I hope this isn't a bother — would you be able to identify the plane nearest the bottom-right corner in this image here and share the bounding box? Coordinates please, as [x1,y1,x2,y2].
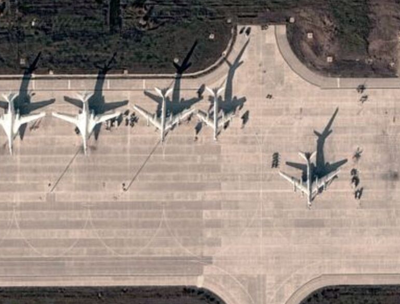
[278,150,338,205]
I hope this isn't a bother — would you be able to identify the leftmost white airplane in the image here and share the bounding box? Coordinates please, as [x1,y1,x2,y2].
[0,94,45,153]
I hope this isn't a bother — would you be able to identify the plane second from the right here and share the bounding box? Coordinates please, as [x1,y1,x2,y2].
[196,83,234,139]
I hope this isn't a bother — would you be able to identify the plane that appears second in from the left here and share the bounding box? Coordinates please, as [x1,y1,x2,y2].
[52,93,119,153]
